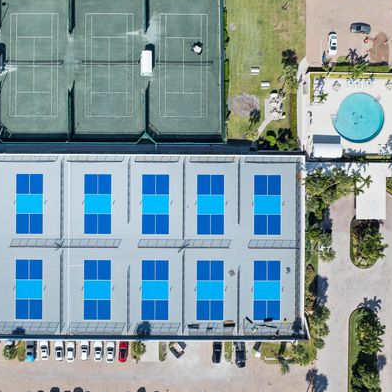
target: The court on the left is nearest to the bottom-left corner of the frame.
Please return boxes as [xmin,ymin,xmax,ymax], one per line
[13,259,45,319]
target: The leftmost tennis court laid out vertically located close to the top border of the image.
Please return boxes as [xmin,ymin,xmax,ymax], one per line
[0,0,71,143]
